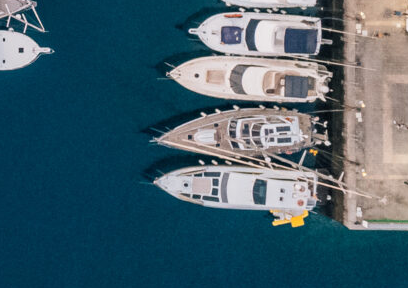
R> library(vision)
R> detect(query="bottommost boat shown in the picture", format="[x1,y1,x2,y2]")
[142,160,340,215]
